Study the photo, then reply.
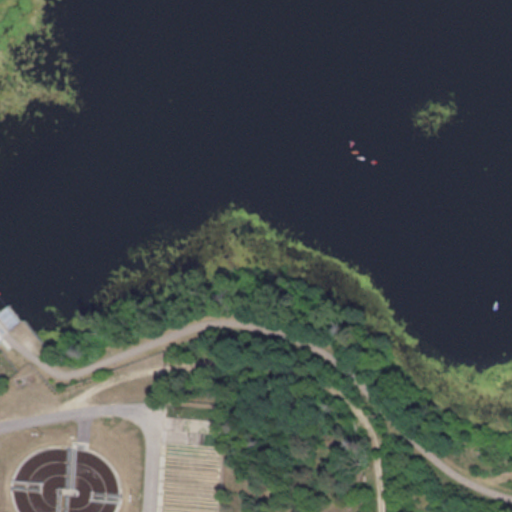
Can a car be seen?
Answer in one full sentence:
No, there isn't any car down there.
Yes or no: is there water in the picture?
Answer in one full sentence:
Yes, water can be seen from above here.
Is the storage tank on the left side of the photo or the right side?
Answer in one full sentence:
The storage tank sits on the left side.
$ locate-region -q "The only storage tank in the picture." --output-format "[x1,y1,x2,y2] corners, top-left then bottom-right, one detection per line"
[12,442,122,512]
